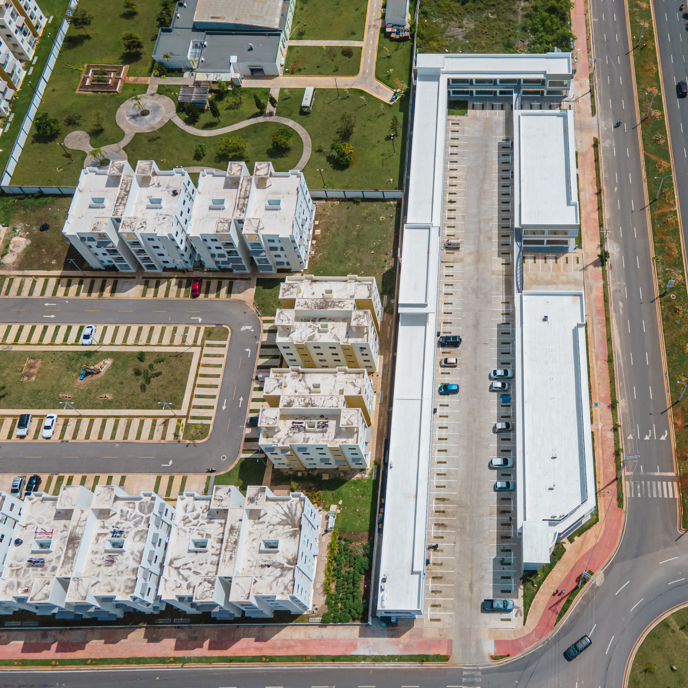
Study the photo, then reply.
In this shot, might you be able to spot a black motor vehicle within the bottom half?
Yes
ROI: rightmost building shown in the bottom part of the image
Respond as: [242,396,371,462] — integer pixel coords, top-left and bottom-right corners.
[513,289,597,564]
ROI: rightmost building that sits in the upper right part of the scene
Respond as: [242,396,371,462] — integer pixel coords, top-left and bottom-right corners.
[512,108,581,244]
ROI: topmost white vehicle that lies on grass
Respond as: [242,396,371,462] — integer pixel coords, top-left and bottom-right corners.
[300,84,317,113]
